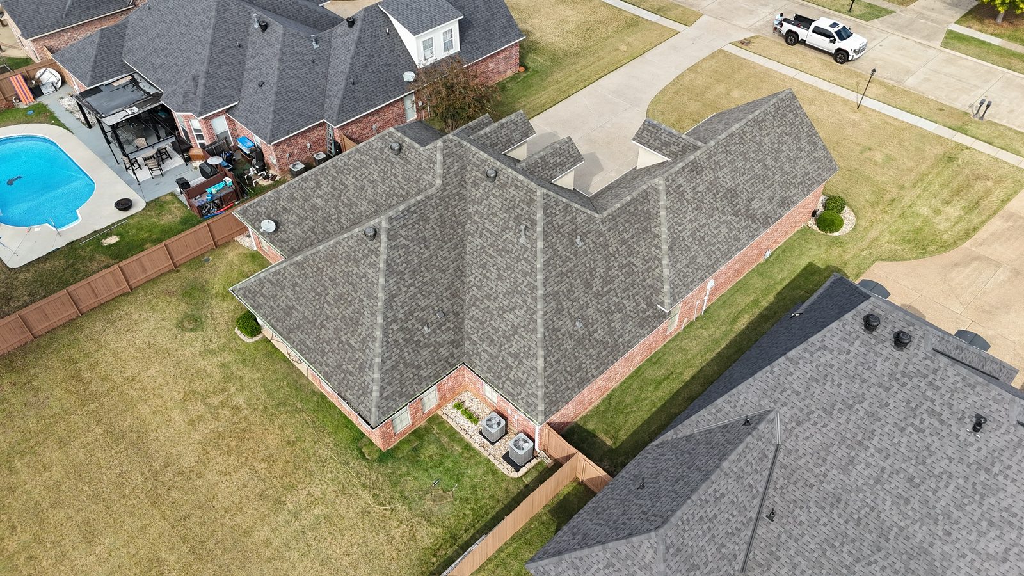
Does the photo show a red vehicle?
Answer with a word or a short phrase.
No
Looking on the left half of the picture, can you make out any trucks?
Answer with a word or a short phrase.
No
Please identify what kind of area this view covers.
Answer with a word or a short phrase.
residential area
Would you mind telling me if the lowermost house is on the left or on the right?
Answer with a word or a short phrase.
right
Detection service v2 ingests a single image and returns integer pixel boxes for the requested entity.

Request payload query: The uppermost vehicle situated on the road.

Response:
[781,15,871,64]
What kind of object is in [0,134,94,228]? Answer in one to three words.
swimming pool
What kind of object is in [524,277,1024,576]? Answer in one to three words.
house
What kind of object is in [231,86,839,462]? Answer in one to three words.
house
